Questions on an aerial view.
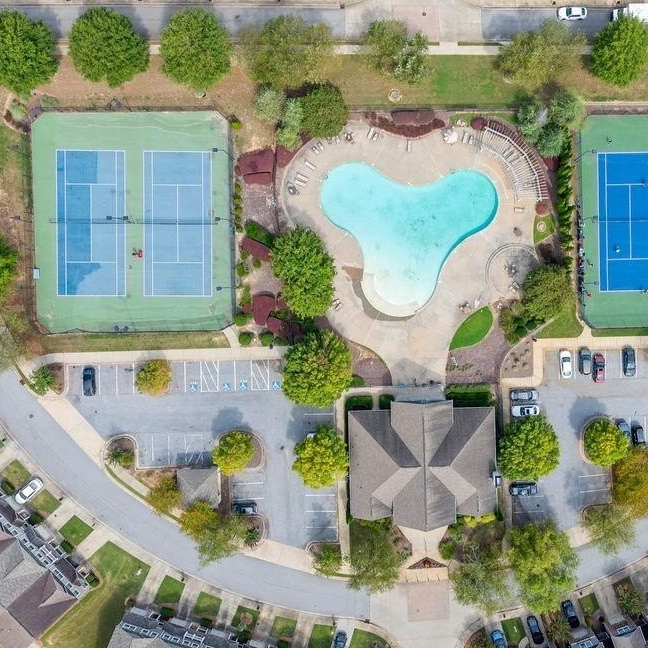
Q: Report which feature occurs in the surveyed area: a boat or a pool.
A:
pool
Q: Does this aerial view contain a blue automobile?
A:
Yes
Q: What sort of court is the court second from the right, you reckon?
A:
tennis court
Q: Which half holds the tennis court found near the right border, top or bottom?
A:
top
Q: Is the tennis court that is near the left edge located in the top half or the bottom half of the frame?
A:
top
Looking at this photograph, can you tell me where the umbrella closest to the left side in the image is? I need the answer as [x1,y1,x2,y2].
[442,128,459,145]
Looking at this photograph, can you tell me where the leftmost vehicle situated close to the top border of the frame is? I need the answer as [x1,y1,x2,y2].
[556,6,587,22]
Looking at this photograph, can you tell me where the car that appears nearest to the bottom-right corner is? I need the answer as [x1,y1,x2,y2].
[559,596,580,626]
